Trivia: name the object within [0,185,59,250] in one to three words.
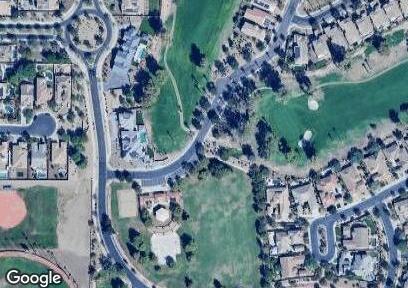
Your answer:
baseball field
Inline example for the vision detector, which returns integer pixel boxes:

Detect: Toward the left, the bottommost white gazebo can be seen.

[156,208,169,223]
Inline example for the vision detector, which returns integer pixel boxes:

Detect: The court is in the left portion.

[118,189,138,218]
